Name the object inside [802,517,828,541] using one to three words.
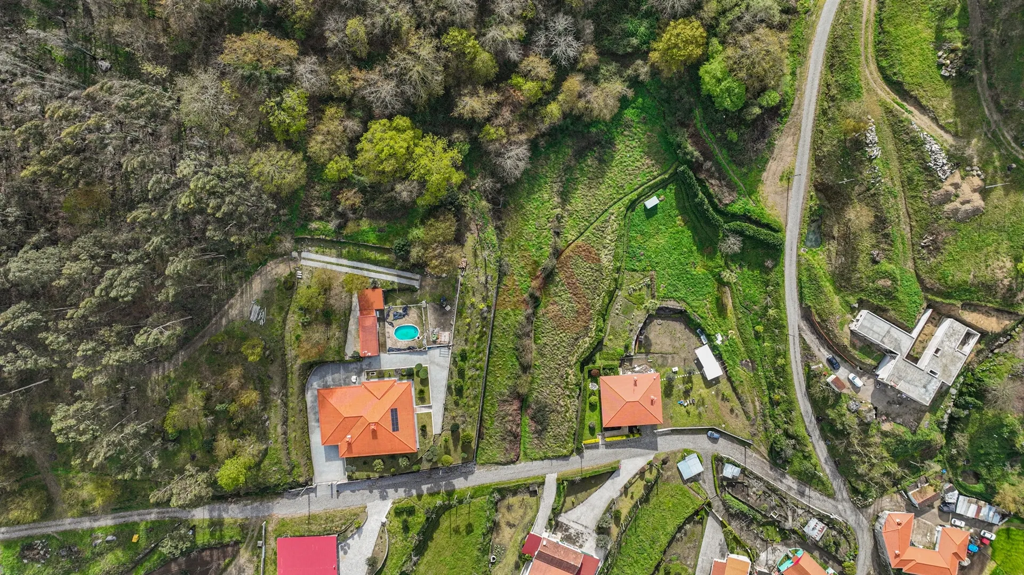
shed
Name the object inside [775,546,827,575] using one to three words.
house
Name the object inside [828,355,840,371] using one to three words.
vehicle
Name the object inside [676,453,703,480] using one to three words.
shed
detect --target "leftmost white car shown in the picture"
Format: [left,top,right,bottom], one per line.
[849,374,864,388]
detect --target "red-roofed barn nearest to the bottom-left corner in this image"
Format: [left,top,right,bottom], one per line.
[277,533,340,575]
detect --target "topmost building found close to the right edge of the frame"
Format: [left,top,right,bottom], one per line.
[849,309,981,406]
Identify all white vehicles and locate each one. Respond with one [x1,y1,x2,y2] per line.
[952,520,967,528]
[981,531,997,541]
[849,374,864,388]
